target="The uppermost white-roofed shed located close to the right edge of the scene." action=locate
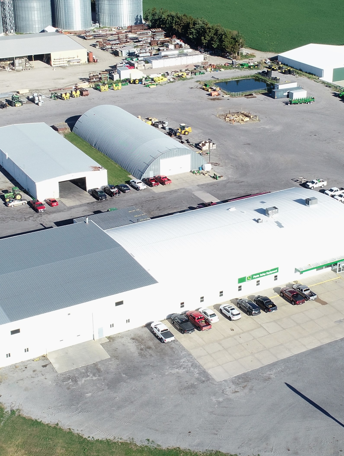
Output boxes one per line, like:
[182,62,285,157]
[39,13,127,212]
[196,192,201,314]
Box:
[278,43,344,82]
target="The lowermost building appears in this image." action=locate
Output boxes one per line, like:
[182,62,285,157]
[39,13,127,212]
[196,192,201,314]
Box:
[0,185,344,366]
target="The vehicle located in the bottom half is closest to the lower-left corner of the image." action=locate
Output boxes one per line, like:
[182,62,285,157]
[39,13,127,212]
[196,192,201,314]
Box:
[149,319,174,341]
